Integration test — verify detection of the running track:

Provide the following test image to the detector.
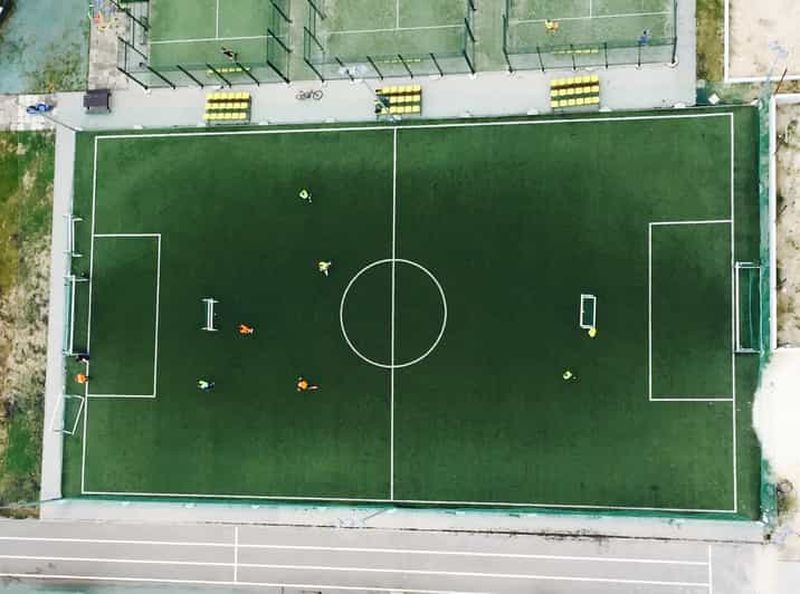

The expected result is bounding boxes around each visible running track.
[0,517,769,594]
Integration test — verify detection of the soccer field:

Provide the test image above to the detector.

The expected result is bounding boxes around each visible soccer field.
[62,106,762,521]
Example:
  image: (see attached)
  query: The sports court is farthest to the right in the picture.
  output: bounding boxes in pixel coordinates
[511,0,673,71]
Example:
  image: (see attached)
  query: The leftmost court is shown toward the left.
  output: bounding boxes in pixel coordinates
[0,0,91,95]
